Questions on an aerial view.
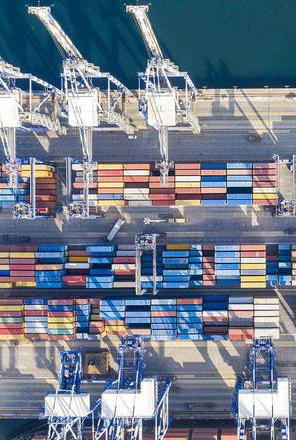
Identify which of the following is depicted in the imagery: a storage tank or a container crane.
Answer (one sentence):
There is a container crane in the scene.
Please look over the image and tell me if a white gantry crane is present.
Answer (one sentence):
Yes, there's a white gantry crane down there.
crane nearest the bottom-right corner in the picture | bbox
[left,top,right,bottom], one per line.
[233,335,291,440]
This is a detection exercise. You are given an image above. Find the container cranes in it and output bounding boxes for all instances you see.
[101,336,177,440]
[43,349,117,440]
[12,155,53,220]
[121,1,206,189]
[233,335,291,440]
[271,153,296,218]
[0,52,74,190]
[65,155,103,219]
[23,3,141,189]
